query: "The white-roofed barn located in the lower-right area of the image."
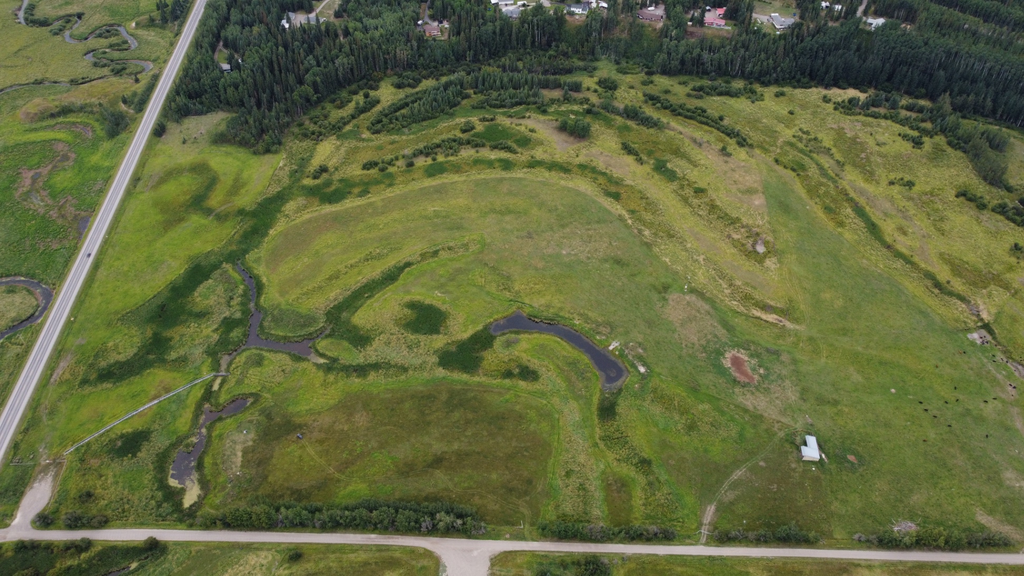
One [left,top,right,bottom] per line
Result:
[802,431,824,460]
